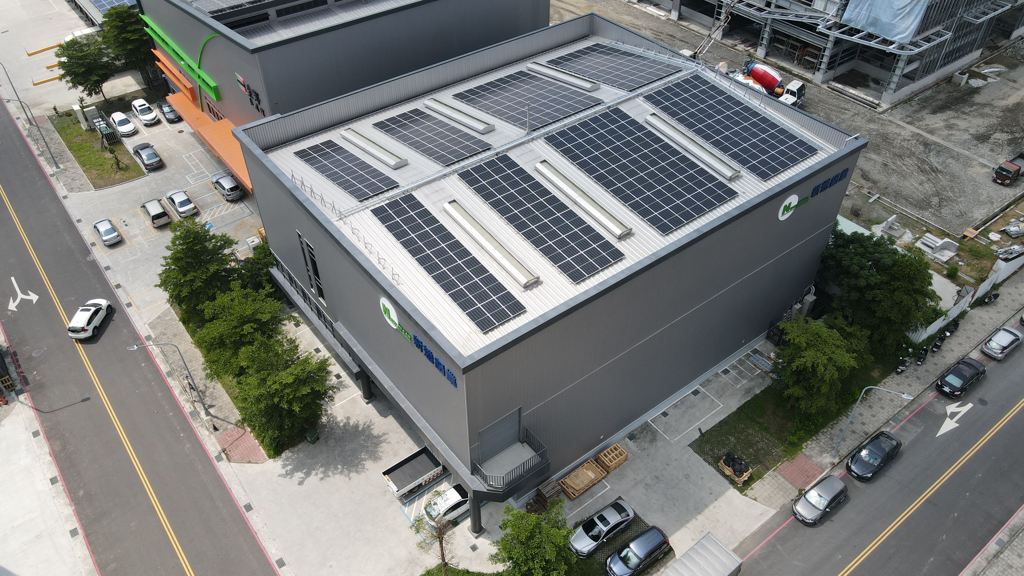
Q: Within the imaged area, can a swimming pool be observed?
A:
No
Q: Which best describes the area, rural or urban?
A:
urban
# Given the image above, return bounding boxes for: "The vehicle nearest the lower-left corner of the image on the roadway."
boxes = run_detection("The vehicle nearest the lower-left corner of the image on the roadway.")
[66,296,117,339]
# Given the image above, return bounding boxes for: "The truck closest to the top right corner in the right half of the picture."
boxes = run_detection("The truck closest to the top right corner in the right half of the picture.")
[993,151,1024,184]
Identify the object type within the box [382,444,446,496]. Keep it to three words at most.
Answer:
truck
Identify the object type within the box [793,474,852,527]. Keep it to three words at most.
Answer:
car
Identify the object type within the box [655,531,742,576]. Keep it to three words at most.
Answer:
truck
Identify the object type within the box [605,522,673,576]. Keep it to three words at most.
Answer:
car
